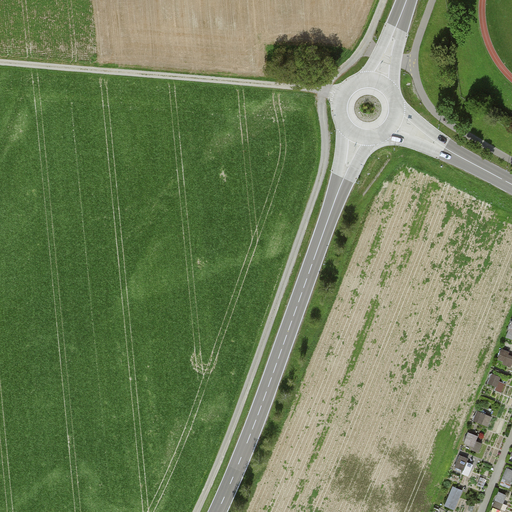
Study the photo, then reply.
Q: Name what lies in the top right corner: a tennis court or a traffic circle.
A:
traffic circle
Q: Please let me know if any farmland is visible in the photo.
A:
Yes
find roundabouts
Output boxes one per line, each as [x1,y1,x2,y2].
[330,23,449,182]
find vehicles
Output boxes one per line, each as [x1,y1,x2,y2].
[437,134,448,143]
[440,152,452,159]
[391,136,404,142]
